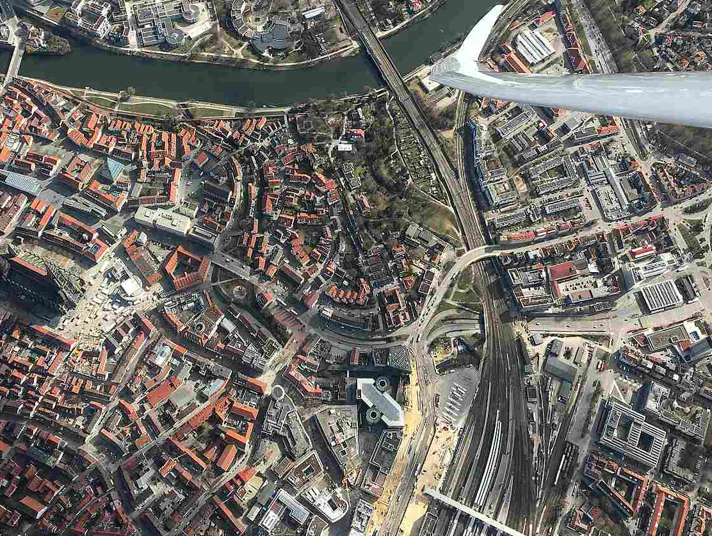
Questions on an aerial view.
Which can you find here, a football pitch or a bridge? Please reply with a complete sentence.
Of the two, only a bridge appears.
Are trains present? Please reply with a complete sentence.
Yes, I can see a train in this picture.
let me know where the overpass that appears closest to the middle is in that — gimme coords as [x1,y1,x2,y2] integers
[445,244,526,279]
